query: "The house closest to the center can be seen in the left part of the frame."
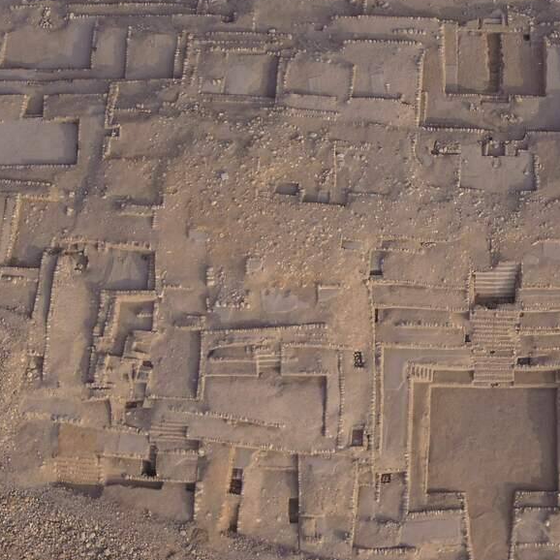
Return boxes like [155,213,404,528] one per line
[162,264,210,331]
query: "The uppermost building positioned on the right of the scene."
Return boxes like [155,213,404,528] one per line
[416,10,560,135]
